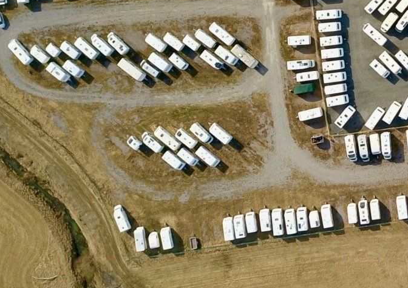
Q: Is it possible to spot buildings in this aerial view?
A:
No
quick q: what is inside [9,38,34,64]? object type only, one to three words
camper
